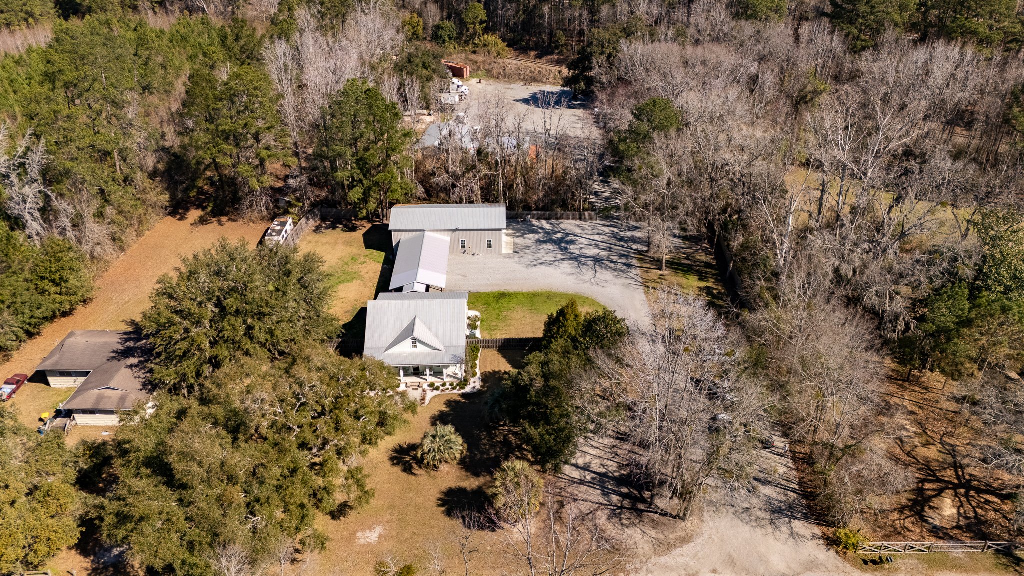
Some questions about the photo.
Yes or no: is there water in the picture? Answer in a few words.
No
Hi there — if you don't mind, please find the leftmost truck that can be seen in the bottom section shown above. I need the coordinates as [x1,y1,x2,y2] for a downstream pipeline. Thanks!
[0,371,31,403]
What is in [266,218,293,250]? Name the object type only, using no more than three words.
vehicle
